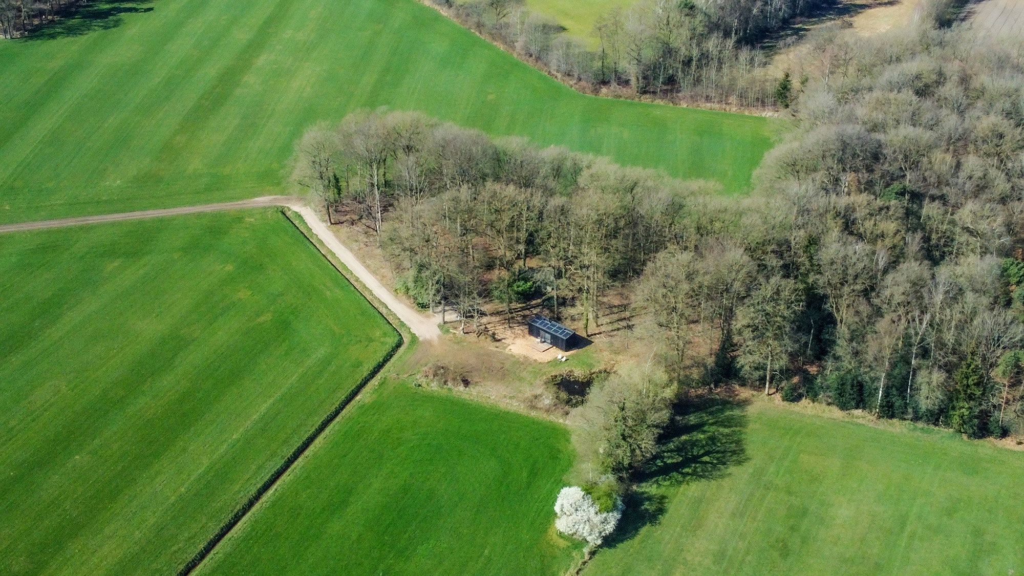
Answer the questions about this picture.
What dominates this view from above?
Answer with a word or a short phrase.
grass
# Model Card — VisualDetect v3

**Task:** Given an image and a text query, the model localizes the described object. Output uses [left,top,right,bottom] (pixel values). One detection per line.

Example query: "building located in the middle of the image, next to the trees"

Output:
[528,313,576,351]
